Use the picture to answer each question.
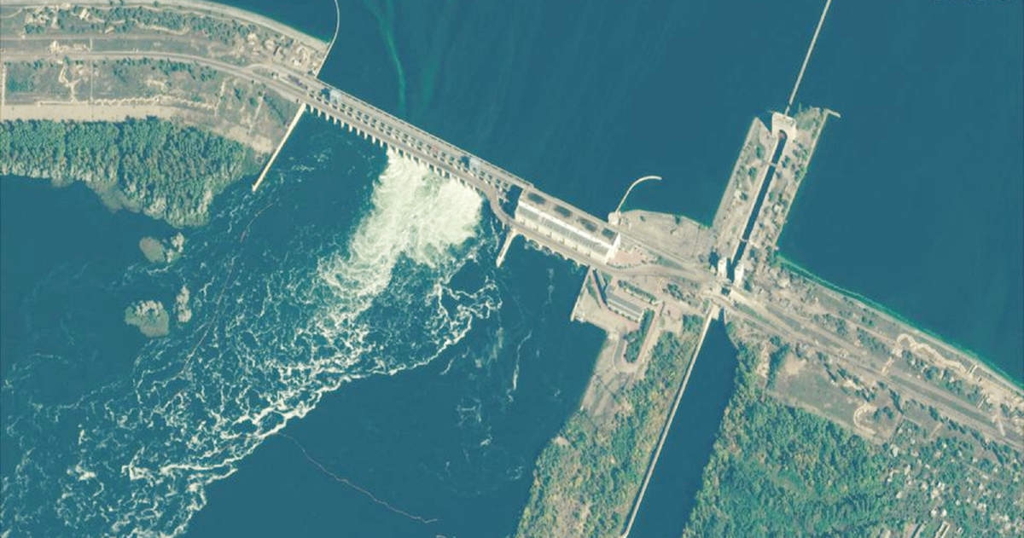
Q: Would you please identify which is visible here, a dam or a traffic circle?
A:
dam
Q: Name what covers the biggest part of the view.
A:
water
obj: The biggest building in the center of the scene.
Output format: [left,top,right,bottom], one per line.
[507,180,621,271]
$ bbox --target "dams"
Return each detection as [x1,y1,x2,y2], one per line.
[300,74,600,269]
